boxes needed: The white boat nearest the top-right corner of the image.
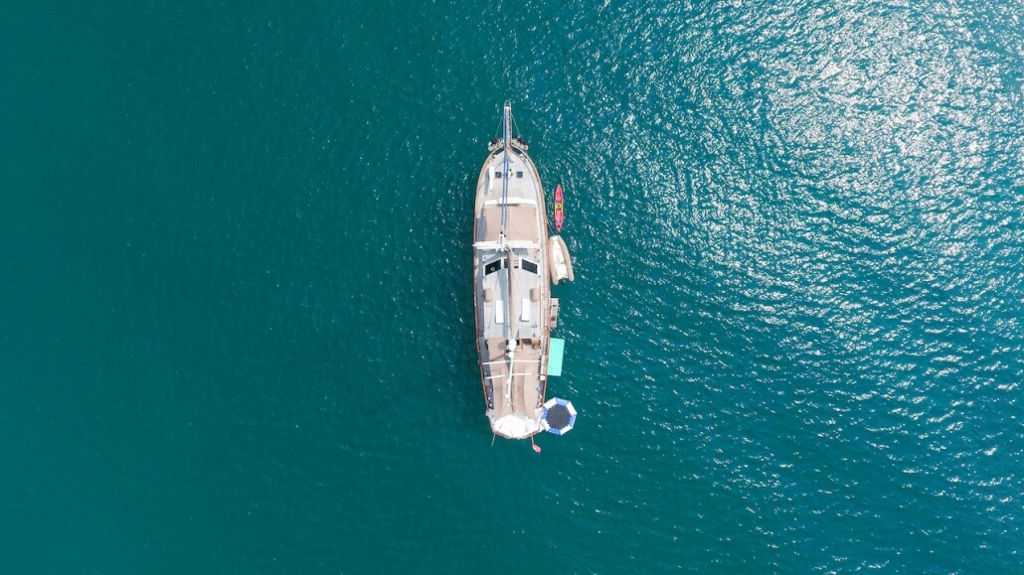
[549,235,574,284]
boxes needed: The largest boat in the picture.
[473,99,560,451]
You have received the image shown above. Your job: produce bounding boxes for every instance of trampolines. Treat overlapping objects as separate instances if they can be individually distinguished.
[539,398,576,434]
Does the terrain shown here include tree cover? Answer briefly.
No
